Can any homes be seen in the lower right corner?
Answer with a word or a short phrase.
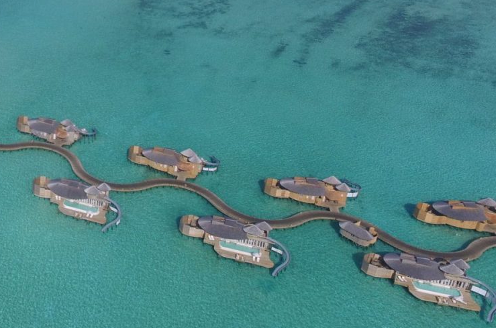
Yes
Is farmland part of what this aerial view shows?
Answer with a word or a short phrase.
No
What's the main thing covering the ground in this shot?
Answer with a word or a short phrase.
water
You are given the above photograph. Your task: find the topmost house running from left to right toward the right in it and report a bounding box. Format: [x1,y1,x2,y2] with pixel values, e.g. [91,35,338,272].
[263,175,363,213]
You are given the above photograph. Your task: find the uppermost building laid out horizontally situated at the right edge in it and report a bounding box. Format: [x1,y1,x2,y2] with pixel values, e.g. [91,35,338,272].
[411,200,496,236]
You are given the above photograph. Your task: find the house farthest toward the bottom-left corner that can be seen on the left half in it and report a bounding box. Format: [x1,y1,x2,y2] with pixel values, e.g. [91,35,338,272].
[33,177,125,229]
